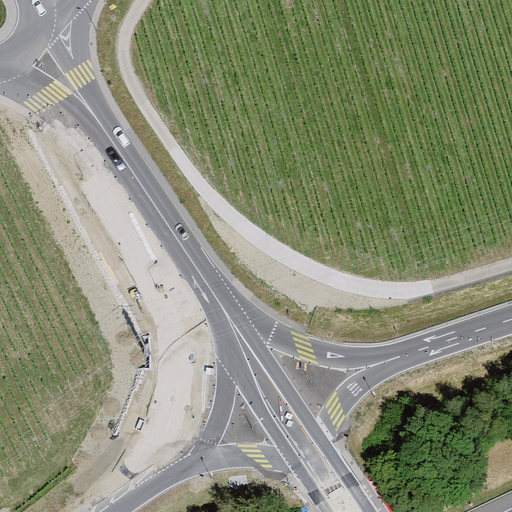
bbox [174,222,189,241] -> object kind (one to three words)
car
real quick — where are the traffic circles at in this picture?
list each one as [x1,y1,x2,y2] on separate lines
[0,0,104,116]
